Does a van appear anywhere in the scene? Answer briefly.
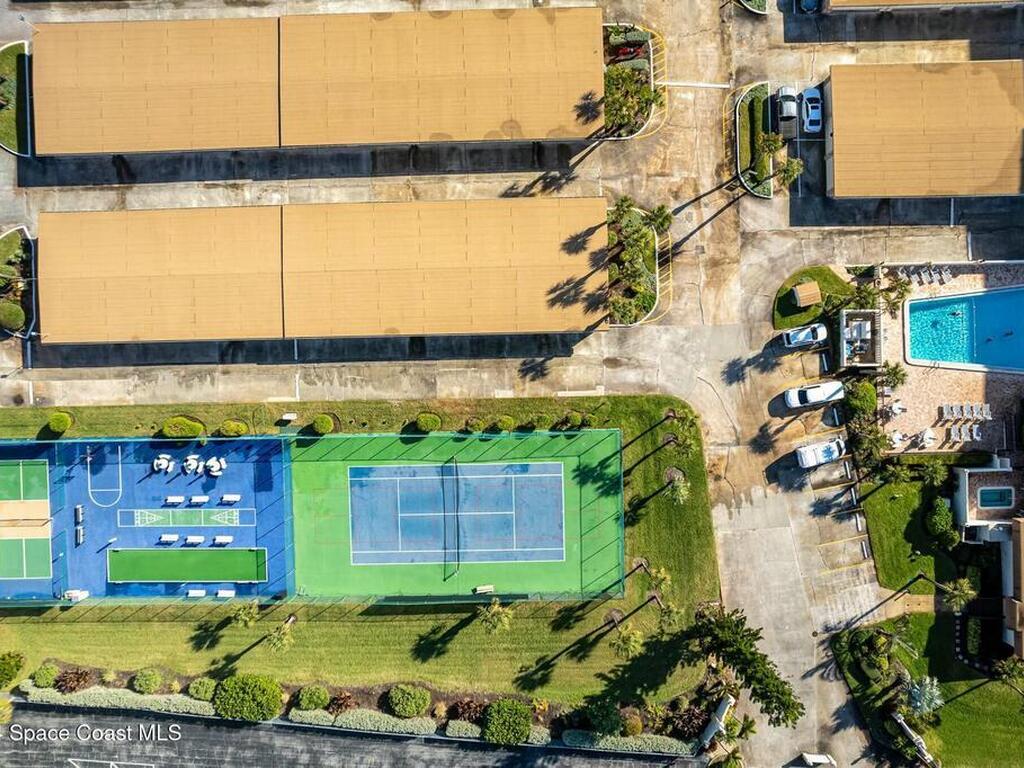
Yes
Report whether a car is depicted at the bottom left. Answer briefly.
No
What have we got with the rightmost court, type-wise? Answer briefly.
tennis court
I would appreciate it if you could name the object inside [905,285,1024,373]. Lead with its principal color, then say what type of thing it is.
blue swimming pool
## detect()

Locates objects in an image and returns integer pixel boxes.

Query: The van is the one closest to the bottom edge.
[796,439,843,468]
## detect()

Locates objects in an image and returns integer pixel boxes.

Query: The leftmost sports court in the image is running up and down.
[0,459,52,580]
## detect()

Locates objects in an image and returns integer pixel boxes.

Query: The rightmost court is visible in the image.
[292,429,622,598]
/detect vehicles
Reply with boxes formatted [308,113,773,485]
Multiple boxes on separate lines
[783,324,827,348]
[801,90,823,134]
[775,89,799,140]
[782,381,845,408]
[796,439,843,468]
